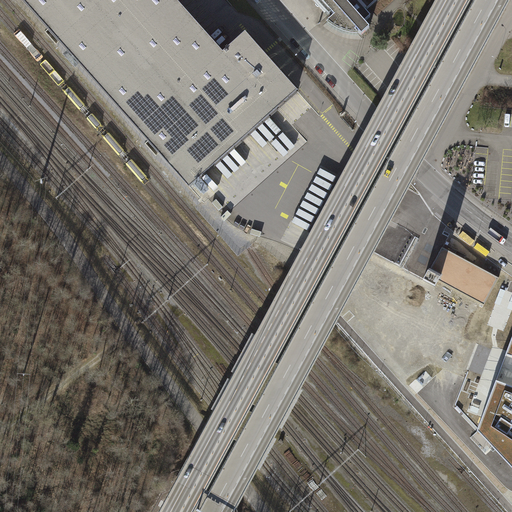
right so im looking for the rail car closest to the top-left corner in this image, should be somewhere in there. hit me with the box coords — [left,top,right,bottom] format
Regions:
[14,30,44,62]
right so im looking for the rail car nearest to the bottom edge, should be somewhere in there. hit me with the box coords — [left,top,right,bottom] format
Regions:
[125,158,150,186]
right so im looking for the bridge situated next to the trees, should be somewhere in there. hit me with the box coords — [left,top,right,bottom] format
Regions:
[160,0,472,512]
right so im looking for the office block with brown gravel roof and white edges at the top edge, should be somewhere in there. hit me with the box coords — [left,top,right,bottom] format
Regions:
[321,0,377,40]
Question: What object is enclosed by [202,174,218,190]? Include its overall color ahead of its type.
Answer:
white vehicle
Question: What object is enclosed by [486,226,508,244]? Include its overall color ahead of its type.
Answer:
white vehicle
